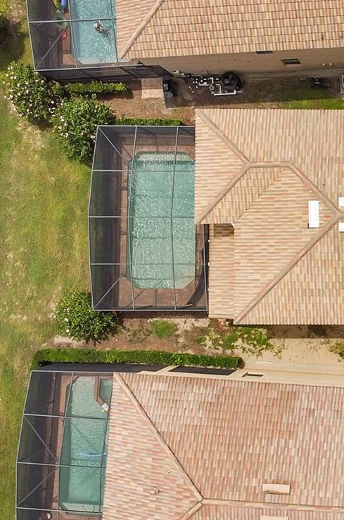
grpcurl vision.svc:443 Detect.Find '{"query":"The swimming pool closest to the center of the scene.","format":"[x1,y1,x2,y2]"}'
[121,146,201,294]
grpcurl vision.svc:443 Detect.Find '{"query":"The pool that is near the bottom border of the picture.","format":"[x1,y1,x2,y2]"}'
[55,374,111,520]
